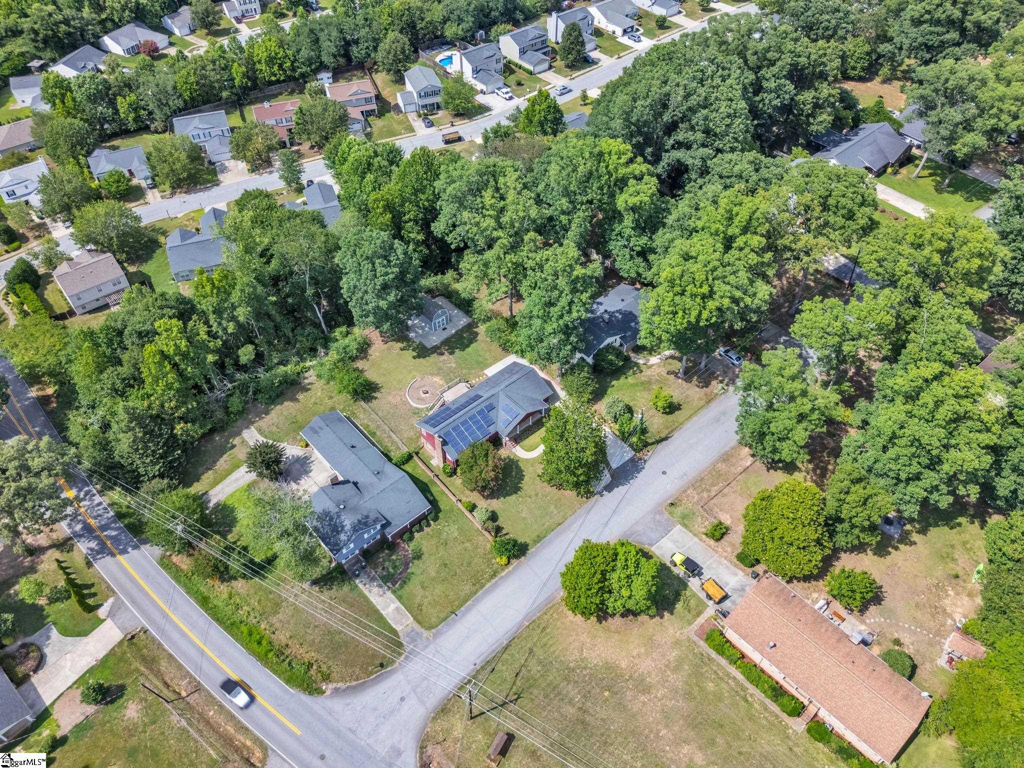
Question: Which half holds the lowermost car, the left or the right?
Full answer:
The lowermost car appears in the left half of the scene.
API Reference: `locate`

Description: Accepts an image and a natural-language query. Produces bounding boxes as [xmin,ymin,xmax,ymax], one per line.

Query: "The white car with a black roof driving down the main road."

[218,674,252,709]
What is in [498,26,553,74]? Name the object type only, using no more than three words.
house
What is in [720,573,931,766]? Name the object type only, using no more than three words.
house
